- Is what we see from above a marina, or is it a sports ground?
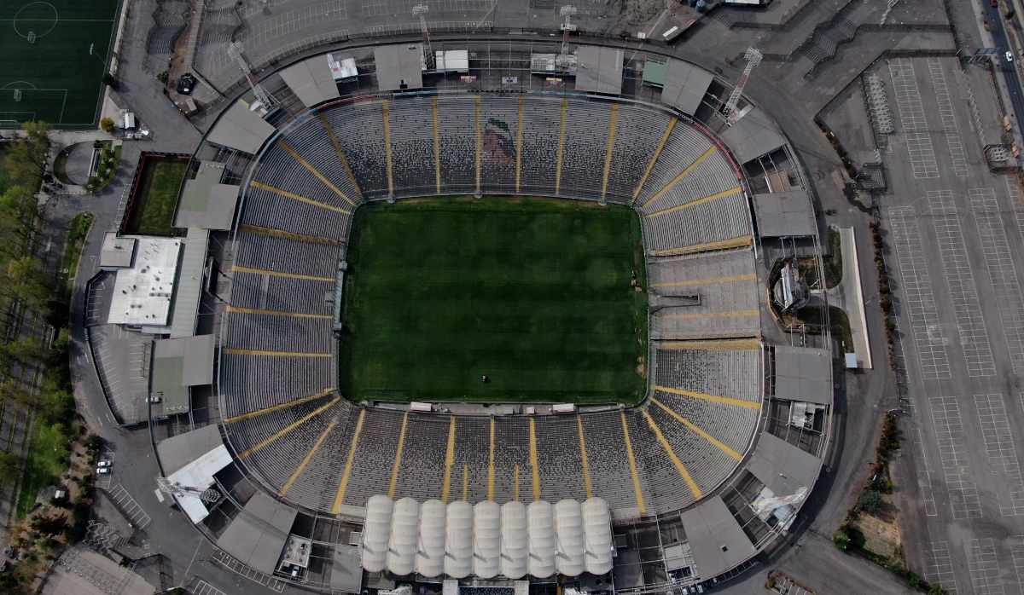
sports ground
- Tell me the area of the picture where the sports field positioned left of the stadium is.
top left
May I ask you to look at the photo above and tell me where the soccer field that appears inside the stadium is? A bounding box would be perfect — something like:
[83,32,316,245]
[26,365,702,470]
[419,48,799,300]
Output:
[335,198,650,416]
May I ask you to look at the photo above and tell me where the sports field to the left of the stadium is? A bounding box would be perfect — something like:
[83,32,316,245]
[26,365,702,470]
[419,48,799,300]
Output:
[0,0,124,128]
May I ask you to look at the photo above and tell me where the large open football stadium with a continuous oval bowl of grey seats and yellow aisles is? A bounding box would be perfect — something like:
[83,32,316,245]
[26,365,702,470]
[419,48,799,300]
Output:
[148,38,834,595]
